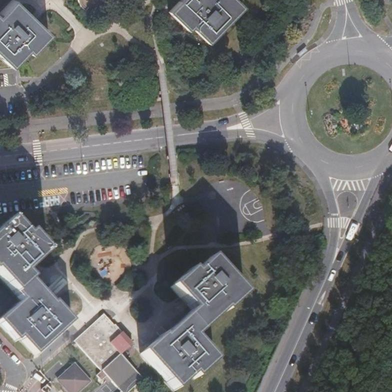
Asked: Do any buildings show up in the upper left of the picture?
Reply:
Yes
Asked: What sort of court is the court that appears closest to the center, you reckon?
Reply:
basketball court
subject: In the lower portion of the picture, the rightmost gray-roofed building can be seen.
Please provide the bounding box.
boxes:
[144,250,254,384]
